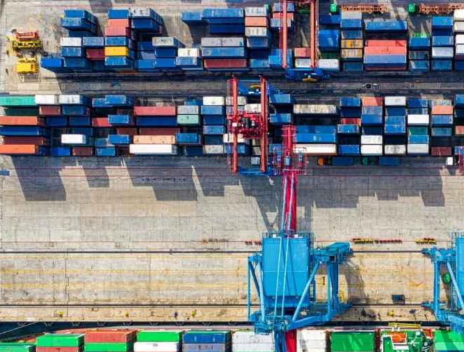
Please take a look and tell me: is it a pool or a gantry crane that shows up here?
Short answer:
gantry crane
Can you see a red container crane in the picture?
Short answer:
Yes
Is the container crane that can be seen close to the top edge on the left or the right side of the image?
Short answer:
right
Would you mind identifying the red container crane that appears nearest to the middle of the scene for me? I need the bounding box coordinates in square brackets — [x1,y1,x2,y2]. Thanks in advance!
[228,77,287,179]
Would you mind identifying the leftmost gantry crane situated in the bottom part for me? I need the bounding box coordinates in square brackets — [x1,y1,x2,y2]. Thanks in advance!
[240,124,355,352]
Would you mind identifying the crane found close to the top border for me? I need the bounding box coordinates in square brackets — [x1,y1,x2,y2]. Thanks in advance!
[278,0,334,84]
